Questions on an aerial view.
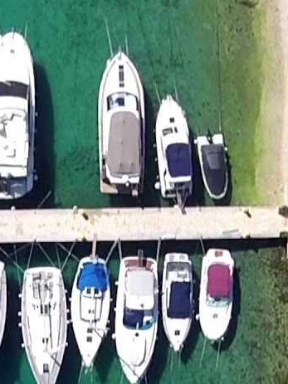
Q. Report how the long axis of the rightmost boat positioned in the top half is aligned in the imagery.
from top to bottom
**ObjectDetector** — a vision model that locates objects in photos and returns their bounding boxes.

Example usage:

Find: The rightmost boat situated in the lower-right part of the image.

[194,239,235,371]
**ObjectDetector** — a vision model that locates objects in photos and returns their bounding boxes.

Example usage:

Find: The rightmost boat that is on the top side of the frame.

[194,98,230,199]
